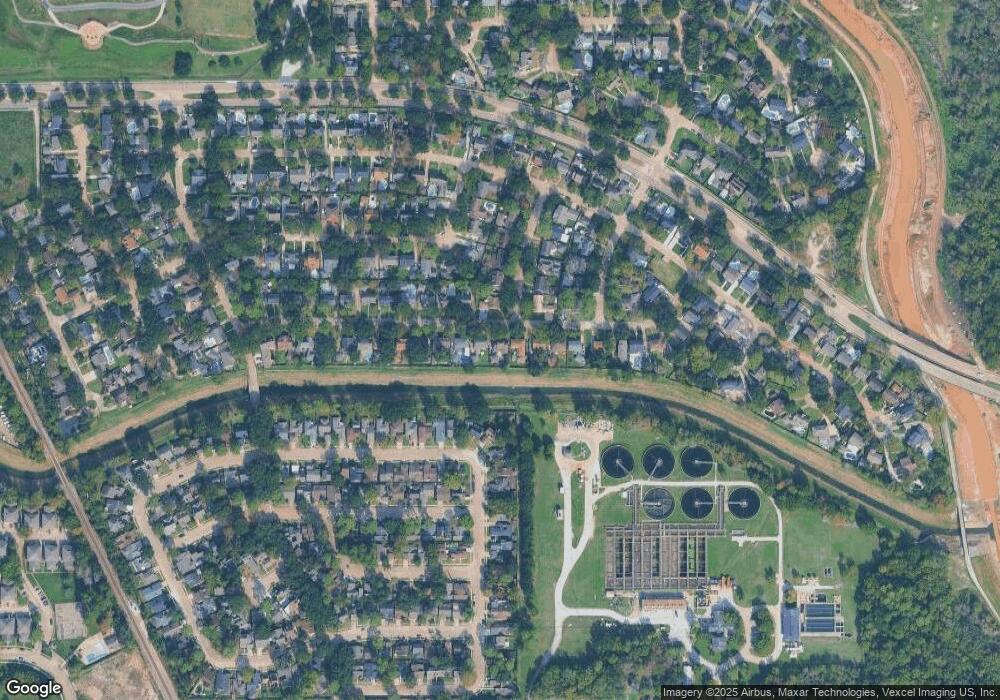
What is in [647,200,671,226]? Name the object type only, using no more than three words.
house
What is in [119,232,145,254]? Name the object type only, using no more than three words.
house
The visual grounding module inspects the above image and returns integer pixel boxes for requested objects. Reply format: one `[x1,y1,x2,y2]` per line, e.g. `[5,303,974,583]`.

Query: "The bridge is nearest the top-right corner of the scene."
[834,293,1000,387]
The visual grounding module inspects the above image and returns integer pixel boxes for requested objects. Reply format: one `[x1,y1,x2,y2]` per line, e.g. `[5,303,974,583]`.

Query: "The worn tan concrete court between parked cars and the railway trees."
[55,602,88,639]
